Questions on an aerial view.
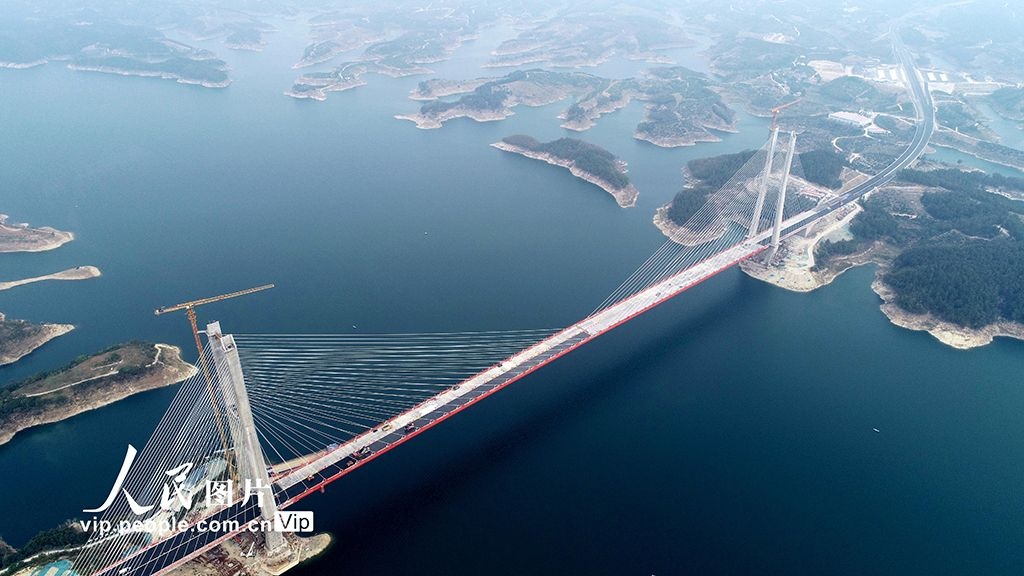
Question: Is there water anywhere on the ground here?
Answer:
Yes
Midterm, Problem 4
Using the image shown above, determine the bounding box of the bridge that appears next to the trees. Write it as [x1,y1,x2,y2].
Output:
[78,128,820,576]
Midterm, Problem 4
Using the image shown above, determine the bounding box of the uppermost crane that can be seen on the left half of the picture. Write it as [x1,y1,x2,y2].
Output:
[154,285,274,528]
